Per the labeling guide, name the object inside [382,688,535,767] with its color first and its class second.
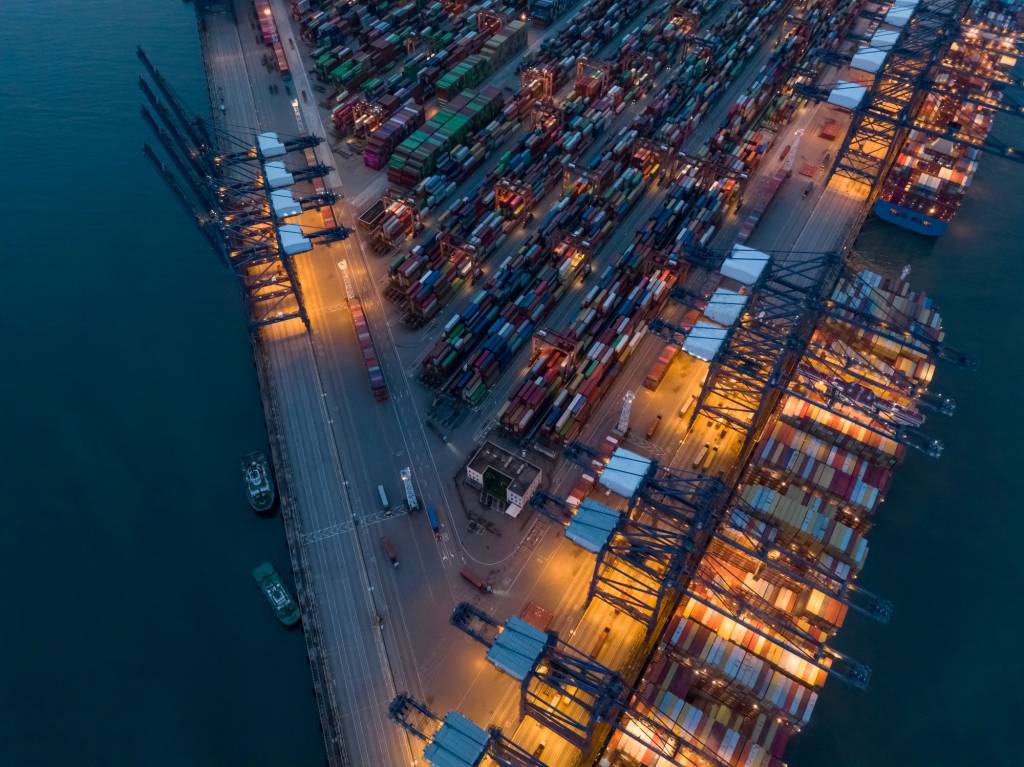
blue container crane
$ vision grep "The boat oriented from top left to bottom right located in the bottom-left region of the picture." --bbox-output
[249,558,298,625]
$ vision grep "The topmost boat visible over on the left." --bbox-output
[240,448,272,511]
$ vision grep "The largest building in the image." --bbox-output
[466,440,542,515]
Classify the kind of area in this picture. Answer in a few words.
port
